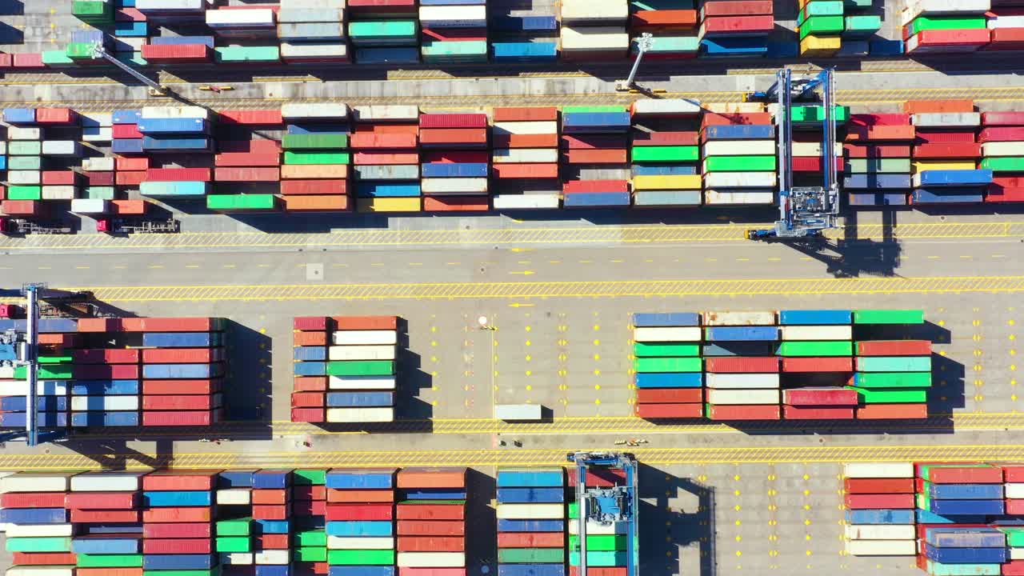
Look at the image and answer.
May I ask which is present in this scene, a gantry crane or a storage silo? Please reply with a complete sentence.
Visible in the photo is a gantry crane.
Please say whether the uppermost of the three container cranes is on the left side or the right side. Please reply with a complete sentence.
The uppermost of the three container cranes is on the right side of the image.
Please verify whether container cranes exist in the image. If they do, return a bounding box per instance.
[743,67,840,241]
[0,283,94,447]
[560,450,640,576]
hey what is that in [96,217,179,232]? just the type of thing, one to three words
vehicle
